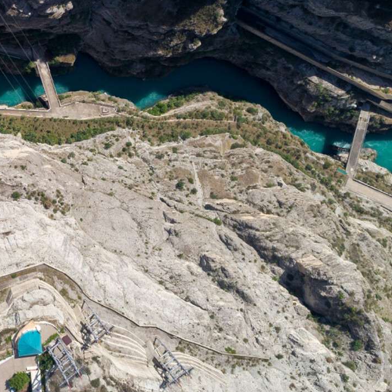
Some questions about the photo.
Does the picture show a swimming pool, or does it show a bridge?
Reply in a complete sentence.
I can see a bridge in this picture.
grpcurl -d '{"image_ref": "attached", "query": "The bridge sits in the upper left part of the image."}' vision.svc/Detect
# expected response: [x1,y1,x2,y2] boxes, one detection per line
[37,62,62,108]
